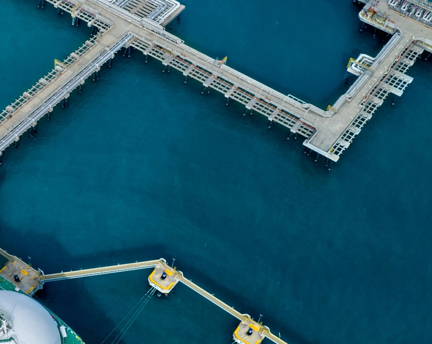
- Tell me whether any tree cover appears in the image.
No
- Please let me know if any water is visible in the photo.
Yes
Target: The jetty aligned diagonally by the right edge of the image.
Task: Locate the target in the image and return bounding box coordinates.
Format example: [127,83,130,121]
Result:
[302,38,425,171]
